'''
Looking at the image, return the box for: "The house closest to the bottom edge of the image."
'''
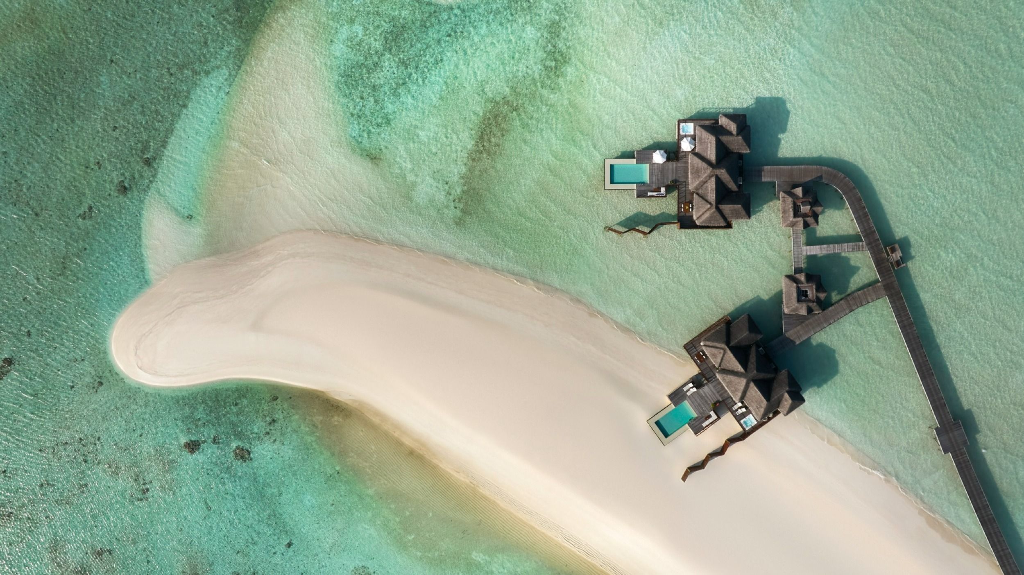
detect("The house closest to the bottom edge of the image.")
[681,314,806,438]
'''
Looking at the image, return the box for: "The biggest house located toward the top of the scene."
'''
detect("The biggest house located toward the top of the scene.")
[674,114,751,229]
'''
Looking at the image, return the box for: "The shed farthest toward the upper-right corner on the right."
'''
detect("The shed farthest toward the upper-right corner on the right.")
[778,186,825,231]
